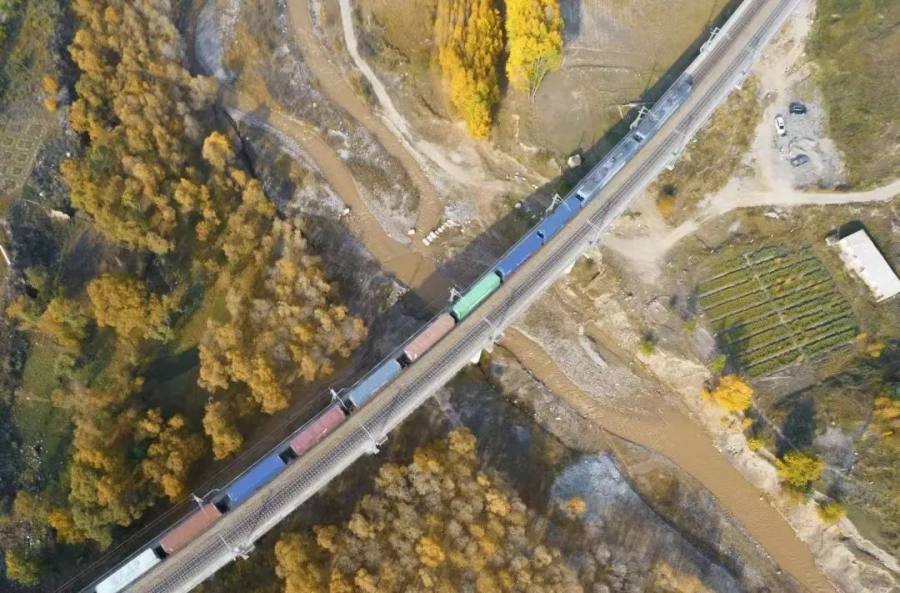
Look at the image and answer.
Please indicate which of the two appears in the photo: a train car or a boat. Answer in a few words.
train car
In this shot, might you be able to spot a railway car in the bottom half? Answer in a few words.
Yes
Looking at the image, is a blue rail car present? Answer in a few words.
Yes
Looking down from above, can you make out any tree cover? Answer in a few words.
Yes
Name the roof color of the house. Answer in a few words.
white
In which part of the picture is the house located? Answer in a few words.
right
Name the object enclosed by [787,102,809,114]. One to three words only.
vehicle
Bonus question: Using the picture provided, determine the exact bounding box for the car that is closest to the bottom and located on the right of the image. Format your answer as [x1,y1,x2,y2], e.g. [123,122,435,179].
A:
[788,154,810,169]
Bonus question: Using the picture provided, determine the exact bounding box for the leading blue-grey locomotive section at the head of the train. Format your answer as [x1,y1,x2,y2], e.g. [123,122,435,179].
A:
[633,78,695,148]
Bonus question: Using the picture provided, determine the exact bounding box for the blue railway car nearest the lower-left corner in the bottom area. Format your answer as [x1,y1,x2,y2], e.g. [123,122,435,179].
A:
[223,448,291,505]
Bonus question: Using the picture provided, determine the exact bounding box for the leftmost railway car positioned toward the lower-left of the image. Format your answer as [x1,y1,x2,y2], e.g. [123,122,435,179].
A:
[85,544,166,593]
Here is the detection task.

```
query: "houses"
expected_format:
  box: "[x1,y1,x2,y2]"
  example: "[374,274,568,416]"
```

[836,231,900,301]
